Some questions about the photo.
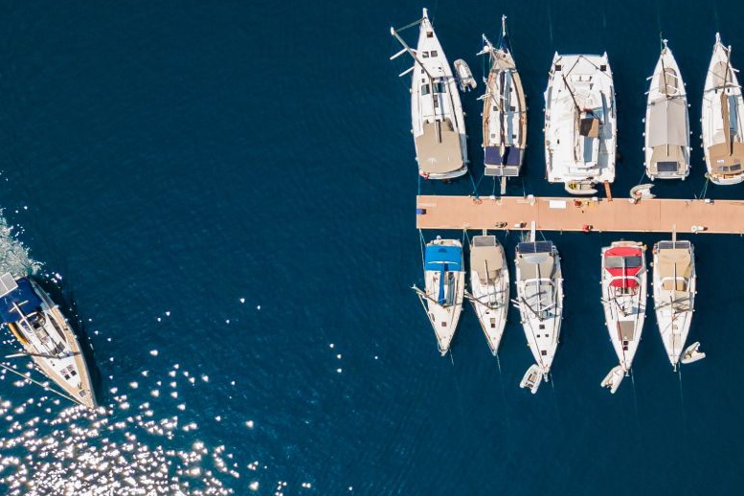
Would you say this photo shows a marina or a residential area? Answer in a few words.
marina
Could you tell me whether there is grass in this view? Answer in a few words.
No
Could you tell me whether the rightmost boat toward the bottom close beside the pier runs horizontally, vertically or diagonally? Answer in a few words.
vertically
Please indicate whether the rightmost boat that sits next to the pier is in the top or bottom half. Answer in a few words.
top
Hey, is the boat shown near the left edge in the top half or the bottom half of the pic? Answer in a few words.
bottom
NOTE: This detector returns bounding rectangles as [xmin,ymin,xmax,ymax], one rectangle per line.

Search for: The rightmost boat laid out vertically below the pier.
[649,226,698,375]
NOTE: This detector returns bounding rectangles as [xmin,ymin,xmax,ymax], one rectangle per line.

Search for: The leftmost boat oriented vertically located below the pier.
[412,229,468,359]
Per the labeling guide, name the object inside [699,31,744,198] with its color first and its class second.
white boat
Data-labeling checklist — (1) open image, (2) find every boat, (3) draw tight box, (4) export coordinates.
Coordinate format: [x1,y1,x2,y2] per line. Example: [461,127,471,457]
[602,366,623,393]
[699,31,744,198]
[453,58,474,90]
[630,184,654,199]
[521,364,542,393]
[463,225,509,362]
[680,343,706,365]
[649,226,698,375]
[389,5,475,194]
[599,230,649,379]
[412,229,468,359]
[0,269,99,413]
[564,182,599,195]
[474,15,530,196]
[513,225,565,381]
[639,36,693,183]
[525,41,622,201]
